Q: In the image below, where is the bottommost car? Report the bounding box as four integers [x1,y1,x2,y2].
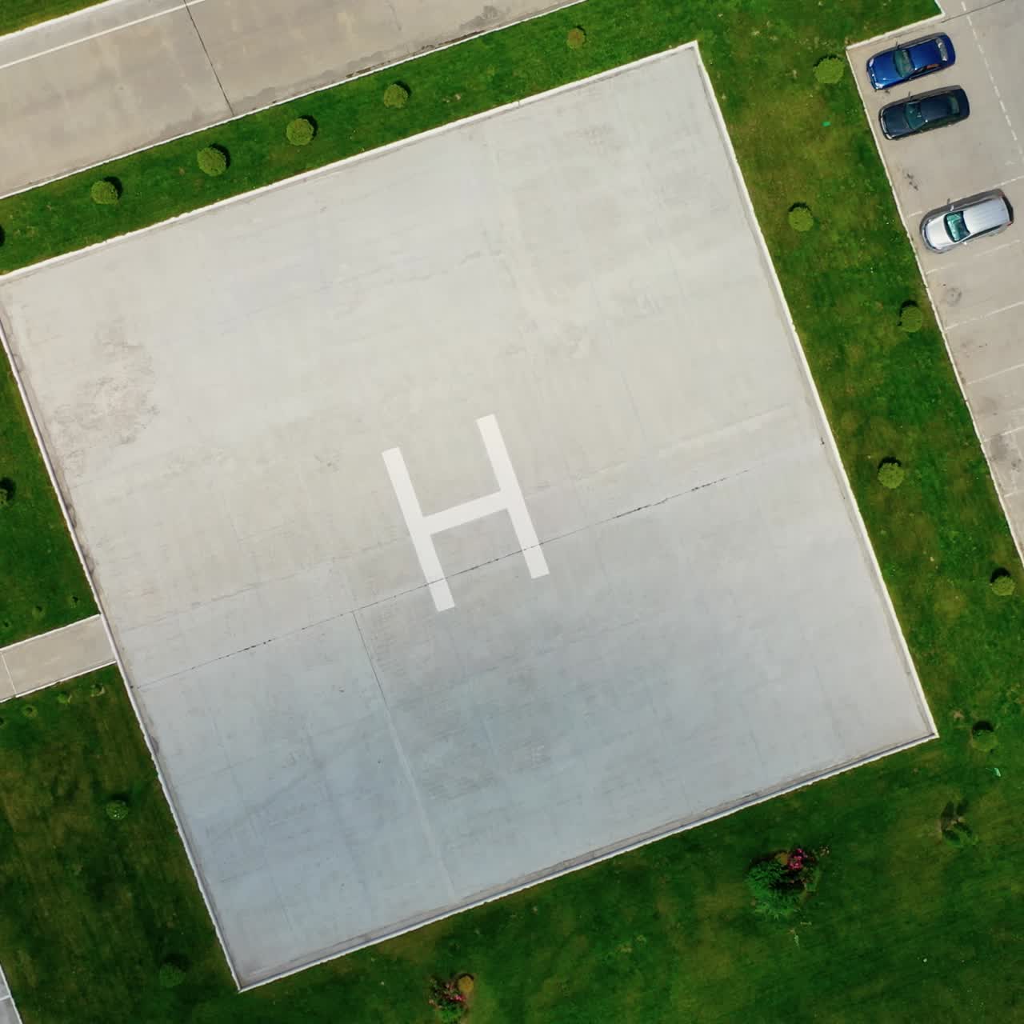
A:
[919,195,1016,252]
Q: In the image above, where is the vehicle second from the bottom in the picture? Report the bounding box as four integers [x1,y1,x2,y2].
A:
[877,87,971,142]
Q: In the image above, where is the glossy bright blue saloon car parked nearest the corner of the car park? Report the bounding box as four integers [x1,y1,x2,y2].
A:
[866,36,956,91]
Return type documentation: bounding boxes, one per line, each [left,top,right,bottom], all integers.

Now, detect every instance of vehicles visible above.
[919,195,1016,252]
[866,36,956,91]
[877,87,971,142]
